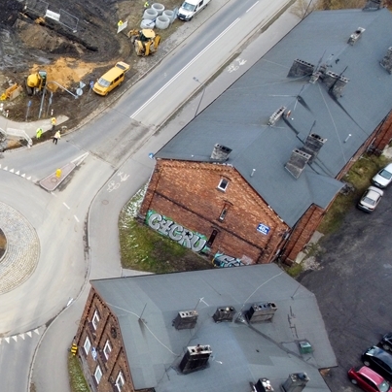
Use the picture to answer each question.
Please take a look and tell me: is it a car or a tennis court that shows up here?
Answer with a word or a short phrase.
car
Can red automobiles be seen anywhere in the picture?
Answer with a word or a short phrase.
Yes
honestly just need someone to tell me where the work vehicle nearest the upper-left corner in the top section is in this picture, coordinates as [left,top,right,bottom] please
[25,63,51,102]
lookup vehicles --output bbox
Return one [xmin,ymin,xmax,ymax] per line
[25,63,51,102]
[94,58,133,94]
[350,364,392,392]
[371,163,392,189]
[182,0,210,17]
[130,25,157,61]
[360,342,392,383]
[356,183,388,214]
